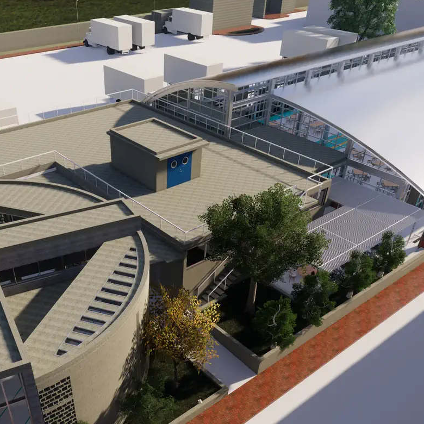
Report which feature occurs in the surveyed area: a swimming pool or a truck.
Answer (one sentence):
This aerial view contains a truck.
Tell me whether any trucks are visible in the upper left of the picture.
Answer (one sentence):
Yes, a truck shows up in the upper left of the picture.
